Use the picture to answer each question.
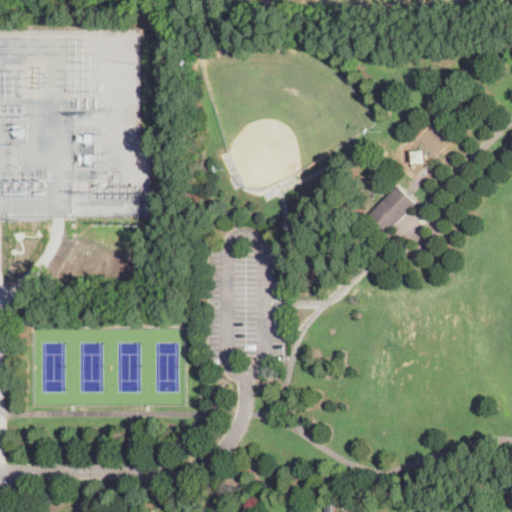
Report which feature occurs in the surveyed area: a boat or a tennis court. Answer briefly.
tennis court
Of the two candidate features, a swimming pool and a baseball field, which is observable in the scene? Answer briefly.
baseball field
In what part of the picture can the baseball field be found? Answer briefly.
top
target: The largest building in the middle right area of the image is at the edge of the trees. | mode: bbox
[368,187,414,230]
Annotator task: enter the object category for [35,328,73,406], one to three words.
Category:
tennis court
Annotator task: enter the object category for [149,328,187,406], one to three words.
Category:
tennis court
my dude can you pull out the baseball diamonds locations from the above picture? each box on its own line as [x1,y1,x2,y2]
[205,53,373,189]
